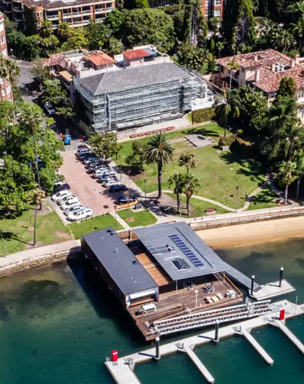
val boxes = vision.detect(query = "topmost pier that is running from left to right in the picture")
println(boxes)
[248,279,297,302]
